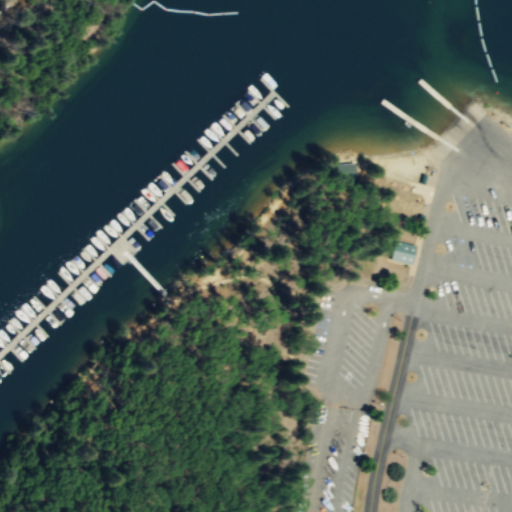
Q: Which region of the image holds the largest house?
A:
right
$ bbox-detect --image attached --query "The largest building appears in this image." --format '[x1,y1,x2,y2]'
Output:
[394,242,417,264]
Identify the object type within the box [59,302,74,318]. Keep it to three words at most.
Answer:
boat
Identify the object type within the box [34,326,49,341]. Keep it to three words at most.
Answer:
boat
